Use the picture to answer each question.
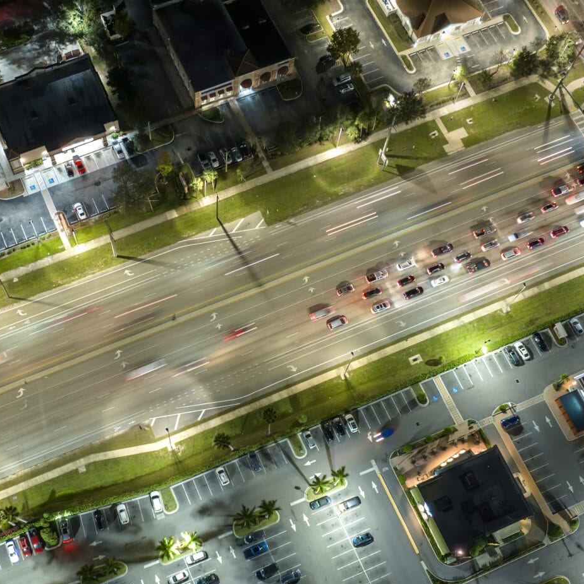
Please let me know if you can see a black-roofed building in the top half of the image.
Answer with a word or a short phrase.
Yes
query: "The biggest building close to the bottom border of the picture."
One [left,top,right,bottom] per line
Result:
[409,444,534,558]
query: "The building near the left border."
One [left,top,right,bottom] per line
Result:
[0,53,120,179]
